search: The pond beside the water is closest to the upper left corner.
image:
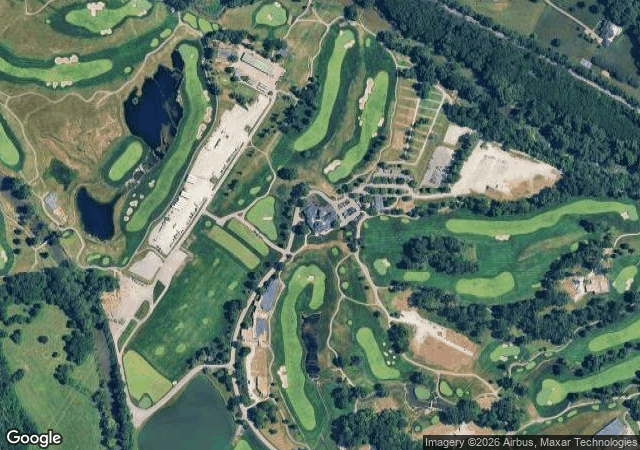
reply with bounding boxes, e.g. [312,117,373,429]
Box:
[122,49,183,153]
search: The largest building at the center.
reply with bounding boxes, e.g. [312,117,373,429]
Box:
[306,195,338,235]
